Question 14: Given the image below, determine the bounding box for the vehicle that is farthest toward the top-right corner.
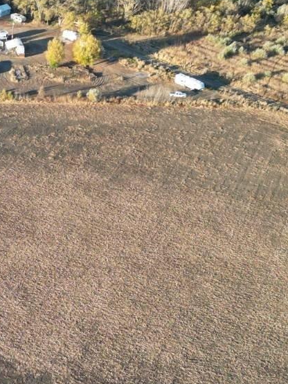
[176,72,210,90]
